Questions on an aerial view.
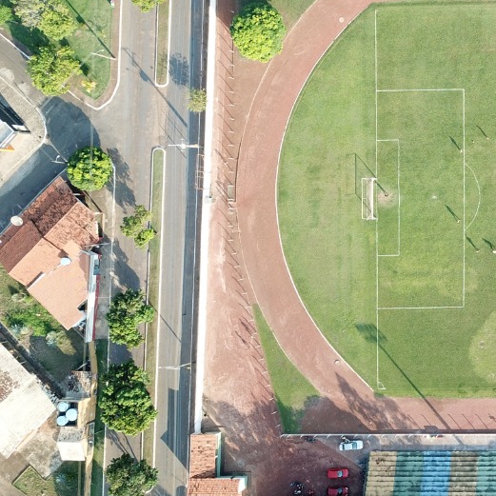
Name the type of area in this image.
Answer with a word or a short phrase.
sports ground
